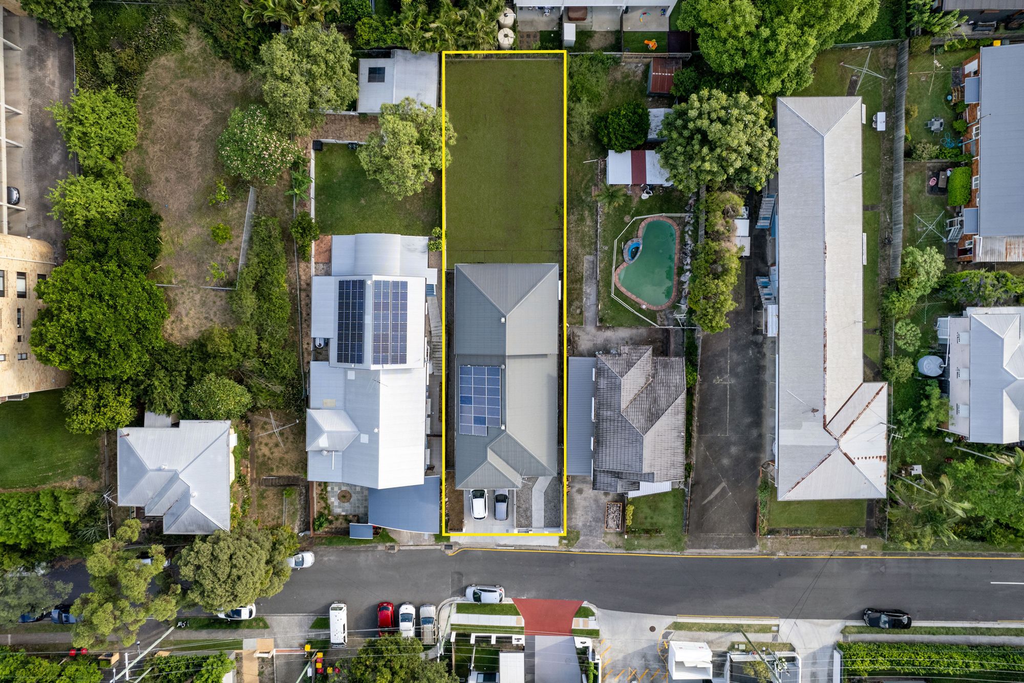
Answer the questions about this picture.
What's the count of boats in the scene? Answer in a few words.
zero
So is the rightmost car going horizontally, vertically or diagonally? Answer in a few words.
horizontally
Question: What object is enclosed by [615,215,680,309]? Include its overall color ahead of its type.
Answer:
green swimming pool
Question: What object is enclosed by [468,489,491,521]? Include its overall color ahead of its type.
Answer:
white car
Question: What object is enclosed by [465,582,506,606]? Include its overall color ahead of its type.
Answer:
white car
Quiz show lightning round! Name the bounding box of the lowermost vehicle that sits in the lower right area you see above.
[861,605,912,631]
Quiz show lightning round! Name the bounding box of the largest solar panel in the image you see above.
[368,66,384,82]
